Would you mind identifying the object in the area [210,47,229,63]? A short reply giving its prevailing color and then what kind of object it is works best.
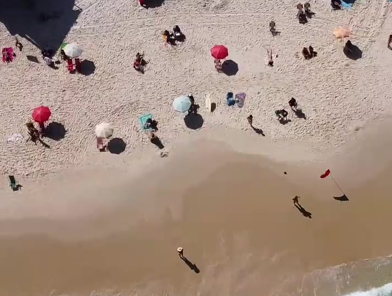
red umbrella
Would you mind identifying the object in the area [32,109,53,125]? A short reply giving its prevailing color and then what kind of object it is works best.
red umbrella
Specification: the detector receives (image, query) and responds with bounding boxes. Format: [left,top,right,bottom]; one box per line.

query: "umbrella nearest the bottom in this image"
[96,127,116,141]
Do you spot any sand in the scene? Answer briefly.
Yes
